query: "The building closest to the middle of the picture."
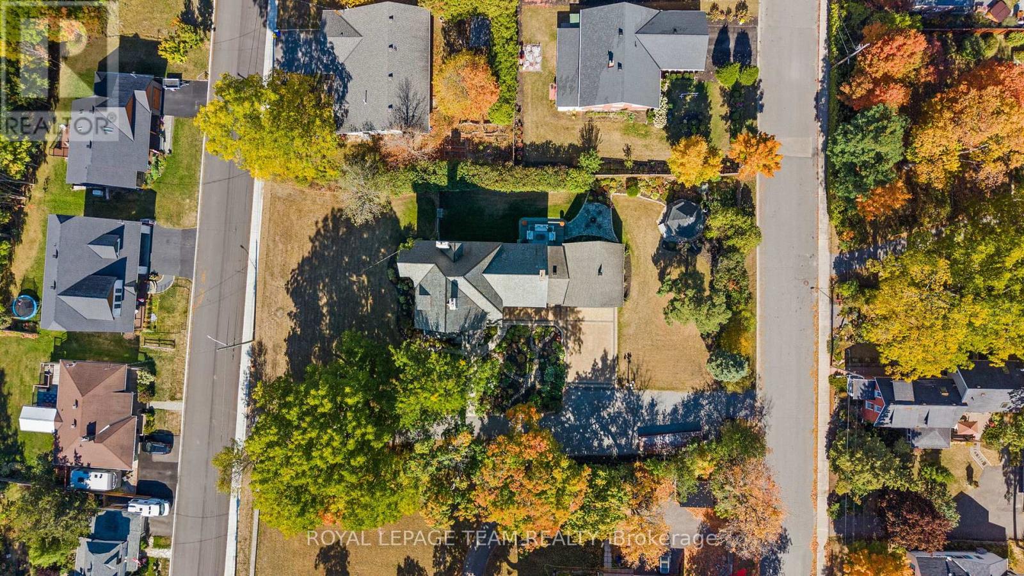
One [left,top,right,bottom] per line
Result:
[397,240,624,342]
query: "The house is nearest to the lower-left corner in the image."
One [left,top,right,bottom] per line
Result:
[75,507,147,576]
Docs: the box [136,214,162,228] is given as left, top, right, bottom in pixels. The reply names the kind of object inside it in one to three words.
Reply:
car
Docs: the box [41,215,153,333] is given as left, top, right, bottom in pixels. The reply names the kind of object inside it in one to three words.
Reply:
house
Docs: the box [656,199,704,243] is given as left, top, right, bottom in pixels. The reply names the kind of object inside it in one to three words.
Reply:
gazebo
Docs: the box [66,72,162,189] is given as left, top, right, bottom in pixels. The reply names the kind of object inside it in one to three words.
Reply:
house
